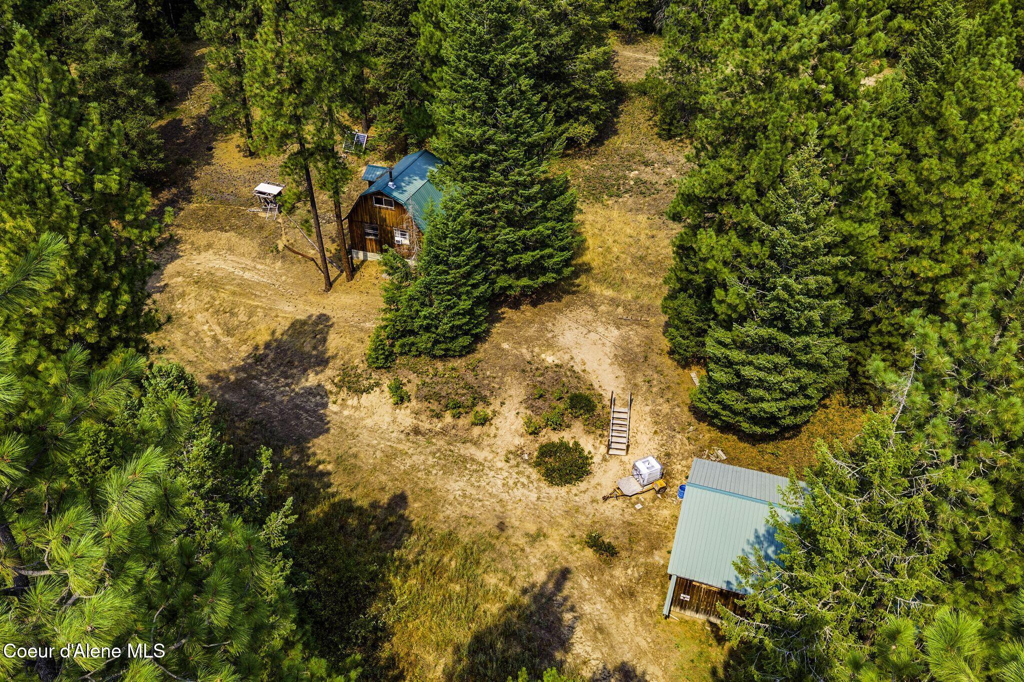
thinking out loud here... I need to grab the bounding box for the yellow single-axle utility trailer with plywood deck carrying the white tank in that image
[599,466,667,503]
